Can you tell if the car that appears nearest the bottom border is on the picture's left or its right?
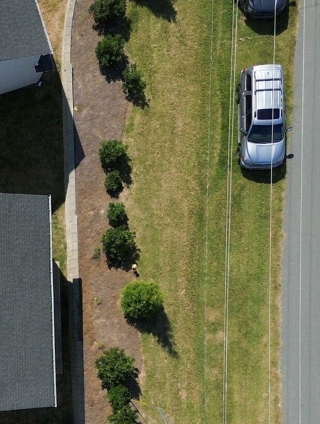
right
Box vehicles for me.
[238,0,287,22]
[233,63,289,172]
